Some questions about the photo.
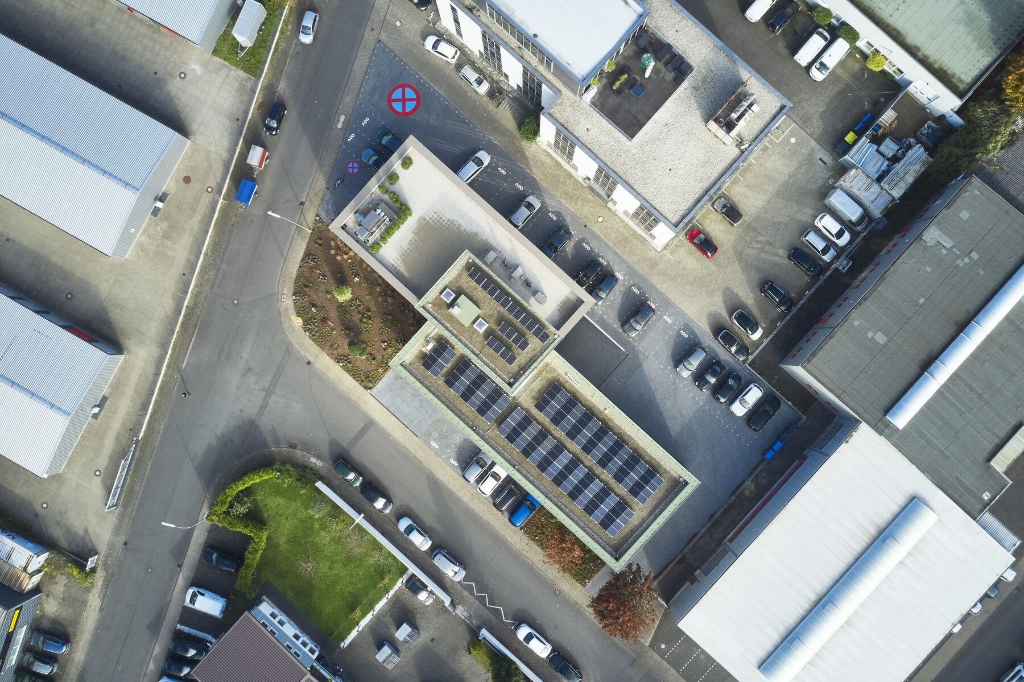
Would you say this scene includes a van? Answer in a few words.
Yes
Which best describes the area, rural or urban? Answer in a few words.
urban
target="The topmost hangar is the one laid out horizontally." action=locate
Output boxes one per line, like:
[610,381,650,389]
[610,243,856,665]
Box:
[100,0,238,57]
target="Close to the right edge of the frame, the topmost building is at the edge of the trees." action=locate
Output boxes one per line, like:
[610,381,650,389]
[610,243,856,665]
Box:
[804,0,1024,138]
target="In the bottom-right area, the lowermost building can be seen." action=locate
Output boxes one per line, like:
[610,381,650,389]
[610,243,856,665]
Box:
[667,417,1016,682]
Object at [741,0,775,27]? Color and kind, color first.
white vehicle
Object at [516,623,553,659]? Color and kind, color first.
white car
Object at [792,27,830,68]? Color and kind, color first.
white van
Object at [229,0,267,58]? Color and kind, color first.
white trailer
